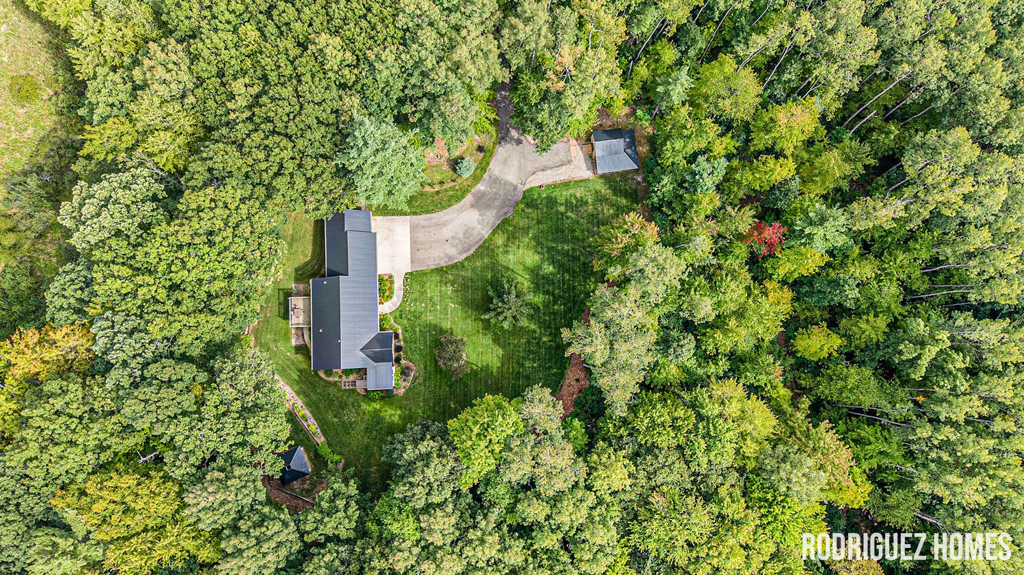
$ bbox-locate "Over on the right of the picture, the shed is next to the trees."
[591,128,639,176]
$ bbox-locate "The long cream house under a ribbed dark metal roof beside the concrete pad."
[310,209,396,391]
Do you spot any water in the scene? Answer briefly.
No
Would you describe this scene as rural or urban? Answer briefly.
rural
